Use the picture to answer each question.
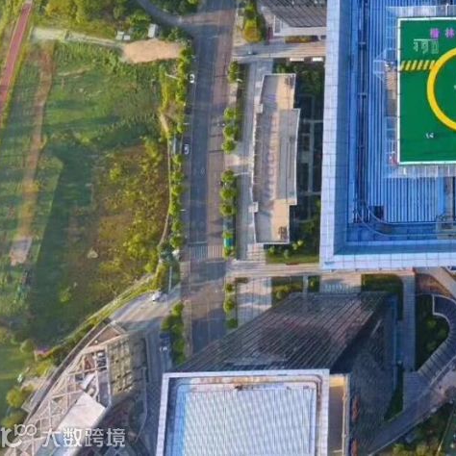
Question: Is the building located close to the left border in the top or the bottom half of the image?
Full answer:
The bottom half of the photo is where the building located close to the left border is.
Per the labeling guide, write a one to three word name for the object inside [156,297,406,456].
building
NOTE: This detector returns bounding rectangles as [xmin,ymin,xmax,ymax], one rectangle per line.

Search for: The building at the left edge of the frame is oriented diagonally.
[4,309,155,456]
